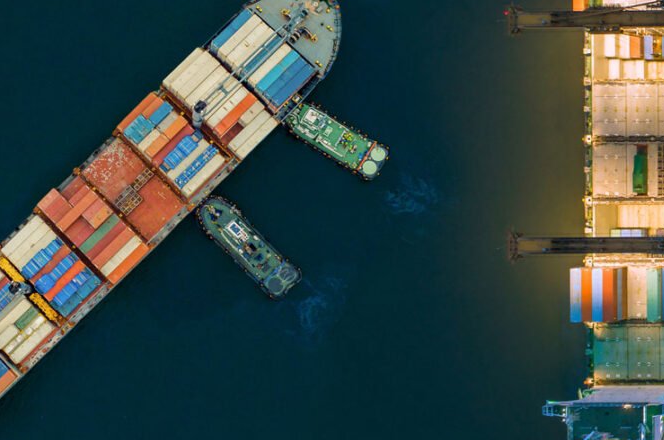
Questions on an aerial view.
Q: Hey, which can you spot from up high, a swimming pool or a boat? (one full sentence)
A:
The image shows a boat.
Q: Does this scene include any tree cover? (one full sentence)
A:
No, there's no tree cover in this view.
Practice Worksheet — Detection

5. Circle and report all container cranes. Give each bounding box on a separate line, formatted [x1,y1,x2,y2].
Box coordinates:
[506,227,664,262]
[506,0,664,37]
